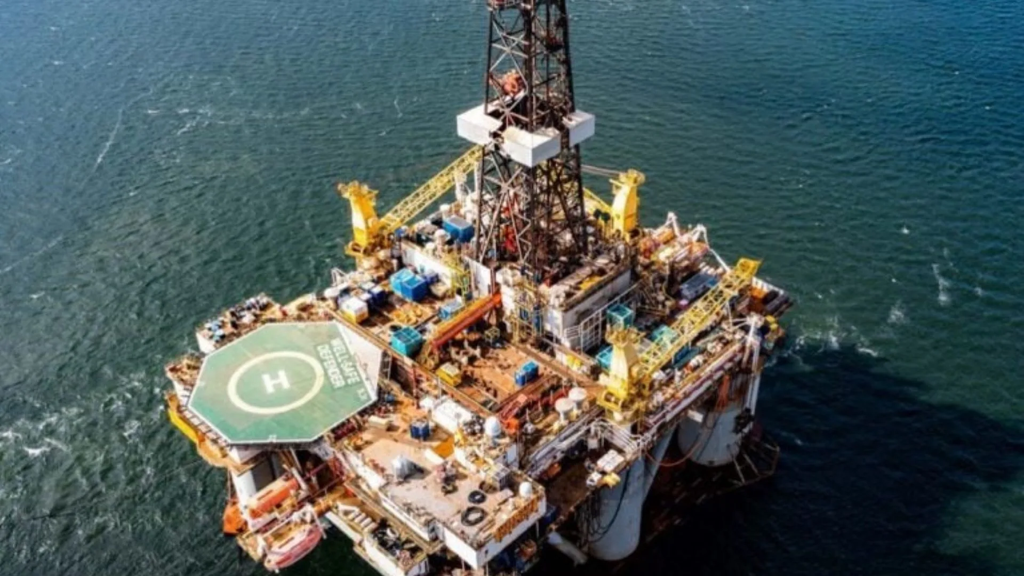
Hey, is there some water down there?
Yes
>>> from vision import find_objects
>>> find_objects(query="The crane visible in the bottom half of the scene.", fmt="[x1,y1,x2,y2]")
[591,265,759,439]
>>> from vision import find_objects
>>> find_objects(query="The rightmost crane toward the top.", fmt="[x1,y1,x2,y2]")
[535,151,648,239]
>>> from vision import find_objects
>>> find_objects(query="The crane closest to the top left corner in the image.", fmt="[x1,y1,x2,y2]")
[338,148,493,266]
